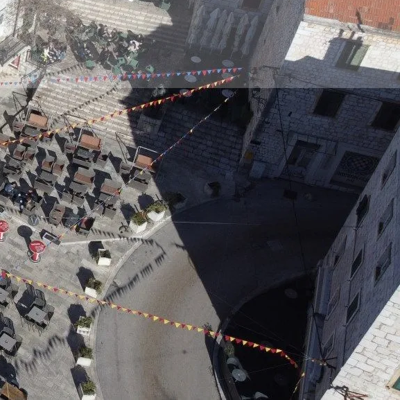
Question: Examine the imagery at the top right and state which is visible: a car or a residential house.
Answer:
residential house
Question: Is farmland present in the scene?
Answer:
No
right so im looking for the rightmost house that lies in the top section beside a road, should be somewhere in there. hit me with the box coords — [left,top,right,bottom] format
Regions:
[248,0,400,196]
